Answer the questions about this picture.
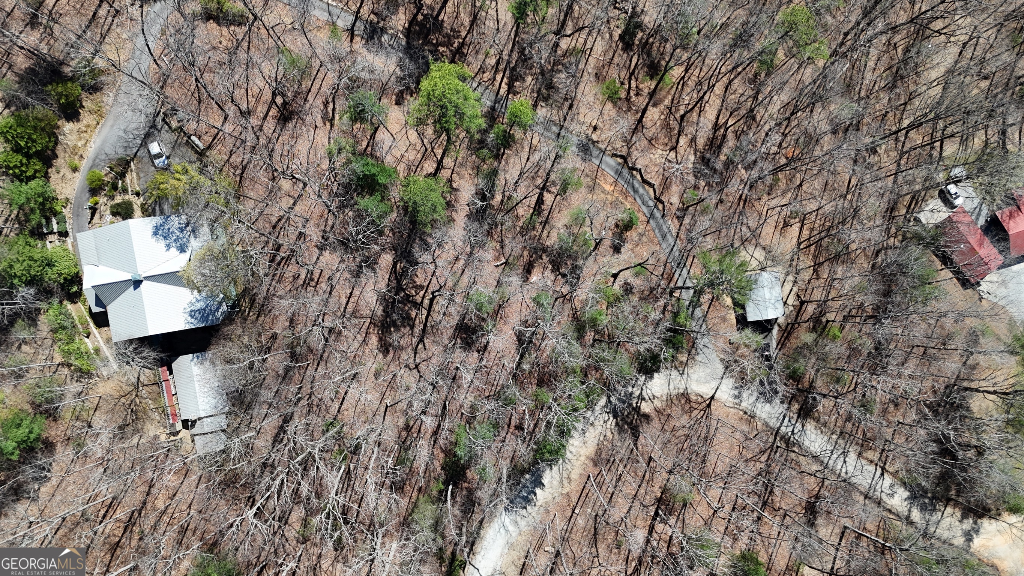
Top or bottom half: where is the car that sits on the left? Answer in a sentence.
The car that sits on the left sits in the top half of the picture.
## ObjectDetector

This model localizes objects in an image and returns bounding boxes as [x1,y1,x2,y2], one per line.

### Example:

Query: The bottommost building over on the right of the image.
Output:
[741,272,784,321]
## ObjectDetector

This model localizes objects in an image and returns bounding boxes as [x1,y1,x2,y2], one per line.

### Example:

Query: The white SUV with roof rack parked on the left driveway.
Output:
[146,139,167,168]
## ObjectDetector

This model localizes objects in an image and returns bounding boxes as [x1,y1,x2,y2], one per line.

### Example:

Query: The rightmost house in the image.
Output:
[995,187,1024,257]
